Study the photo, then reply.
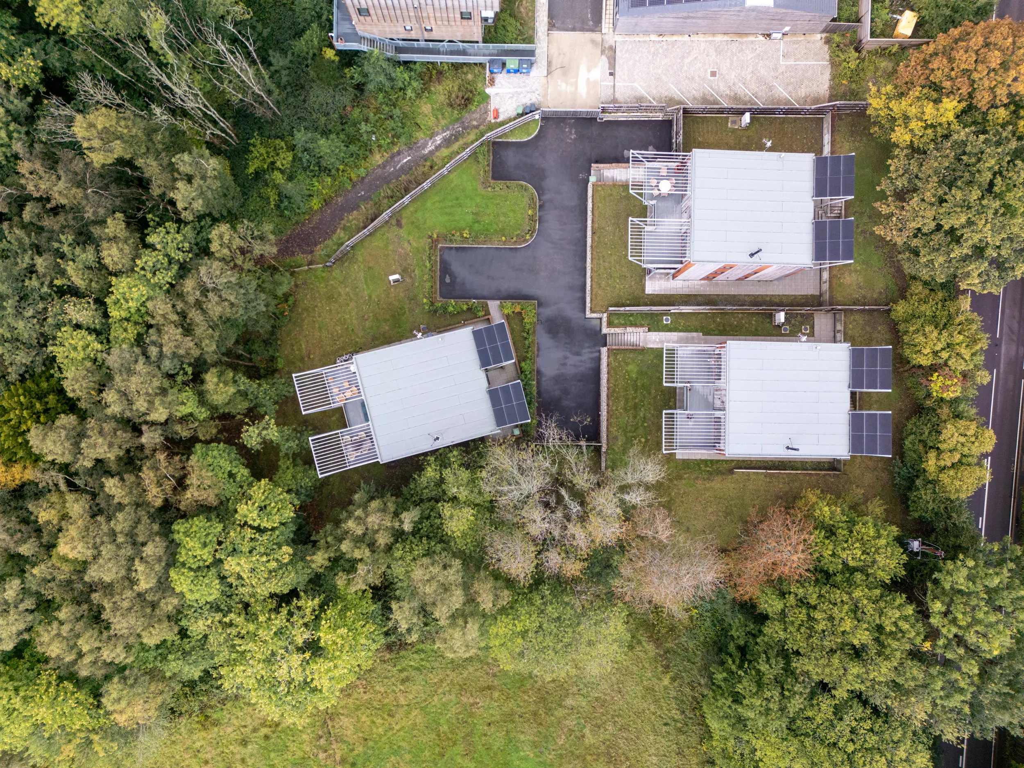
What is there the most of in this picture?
trees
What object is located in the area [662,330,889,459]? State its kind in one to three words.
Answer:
house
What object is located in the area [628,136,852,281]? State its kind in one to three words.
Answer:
house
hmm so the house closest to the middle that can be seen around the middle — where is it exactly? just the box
[293,319,531,475]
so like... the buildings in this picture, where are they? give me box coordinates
[628,136,852,281]
[293,319,531,475]
[662,330,889,459]
[348,0,502,48]
[611,0,839,36]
